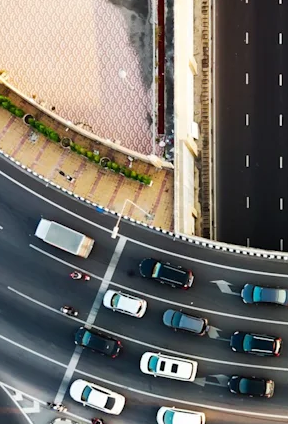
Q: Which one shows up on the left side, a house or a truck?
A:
truck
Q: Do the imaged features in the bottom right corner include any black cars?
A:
Yes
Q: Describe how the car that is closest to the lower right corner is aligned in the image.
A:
from side to side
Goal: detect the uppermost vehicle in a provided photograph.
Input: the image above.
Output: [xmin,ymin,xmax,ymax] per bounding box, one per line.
[33,216,98,262]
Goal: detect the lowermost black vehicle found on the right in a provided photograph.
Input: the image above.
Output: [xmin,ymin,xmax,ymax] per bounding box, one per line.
[229,373,274,398]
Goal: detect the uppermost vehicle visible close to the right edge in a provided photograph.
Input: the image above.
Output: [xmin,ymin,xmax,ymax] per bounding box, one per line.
[241,282,288,308]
